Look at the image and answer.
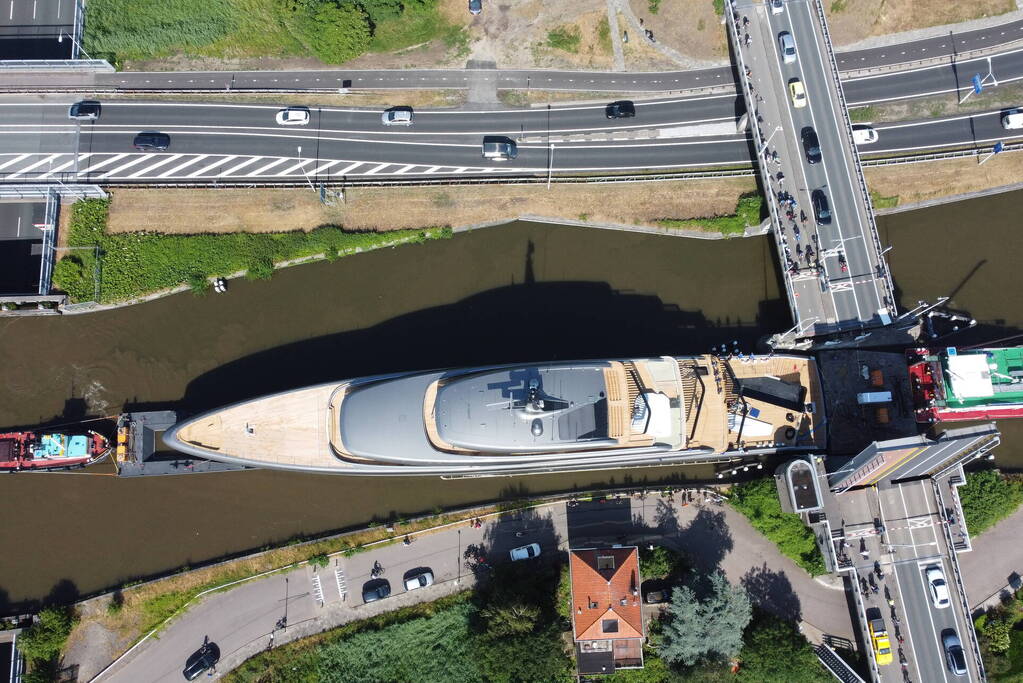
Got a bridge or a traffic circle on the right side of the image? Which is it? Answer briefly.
bridge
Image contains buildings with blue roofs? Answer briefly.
No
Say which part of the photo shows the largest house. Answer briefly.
bottom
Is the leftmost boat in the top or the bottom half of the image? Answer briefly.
bottom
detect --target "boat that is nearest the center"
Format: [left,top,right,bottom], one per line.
[163,352,830,480]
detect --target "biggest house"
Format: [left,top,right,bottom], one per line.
[569,544,644,673]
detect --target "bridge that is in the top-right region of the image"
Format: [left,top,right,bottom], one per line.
[725,0,918,356]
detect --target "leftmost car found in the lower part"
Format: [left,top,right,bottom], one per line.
[179,641,224,683]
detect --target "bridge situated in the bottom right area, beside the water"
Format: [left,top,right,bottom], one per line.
[758,457,995,683]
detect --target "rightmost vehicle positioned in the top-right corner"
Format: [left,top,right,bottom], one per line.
[999,109,1023,130]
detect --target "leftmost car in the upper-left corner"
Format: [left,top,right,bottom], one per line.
[69,103,103,121]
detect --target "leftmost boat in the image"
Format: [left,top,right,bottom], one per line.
[0,430,115,476]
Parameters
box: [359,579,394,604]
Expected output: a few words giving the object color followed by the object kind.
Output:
black car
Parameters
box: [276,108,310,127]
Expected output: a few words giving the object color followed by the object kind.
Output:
white car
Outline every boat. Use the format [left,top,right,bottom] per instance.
[903,344,1023,424]
[163,352,830,480]
[0,430,115,476]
